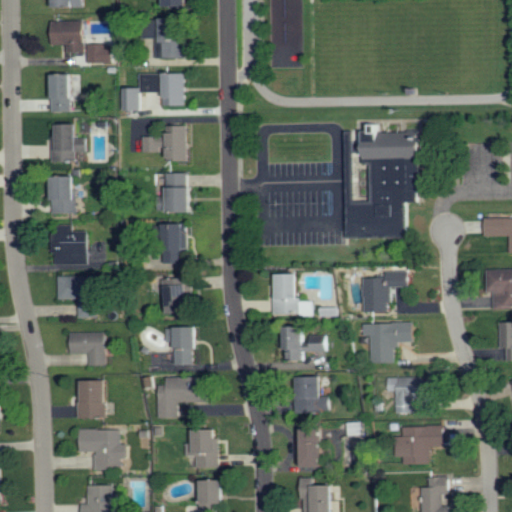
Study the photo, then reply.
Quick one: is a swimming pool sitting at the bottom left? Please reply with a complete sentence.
Yes, a swimming pool can be seen at the bottom left.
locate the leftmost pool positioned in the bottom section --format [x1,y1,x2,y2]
[128,478,150,512]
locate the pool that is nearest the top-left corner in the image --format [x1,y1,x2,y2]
[82,20,111,44]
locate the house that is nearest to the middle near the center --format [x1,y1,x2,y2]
[272,271,299,316]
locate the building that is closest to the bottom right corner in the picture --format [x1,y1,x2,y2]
[420,476,450,512]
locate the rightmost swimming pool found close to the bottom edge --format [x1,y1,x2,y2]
[164,480,196,500]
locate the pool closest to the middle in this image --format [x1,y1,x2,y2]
[298,272,336,306]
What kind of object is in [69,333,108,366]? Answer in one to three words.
house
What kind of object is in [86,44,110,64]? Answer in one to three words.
building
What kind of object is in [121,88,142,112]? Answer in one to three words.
building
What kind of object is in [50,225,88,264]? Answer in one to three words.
house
